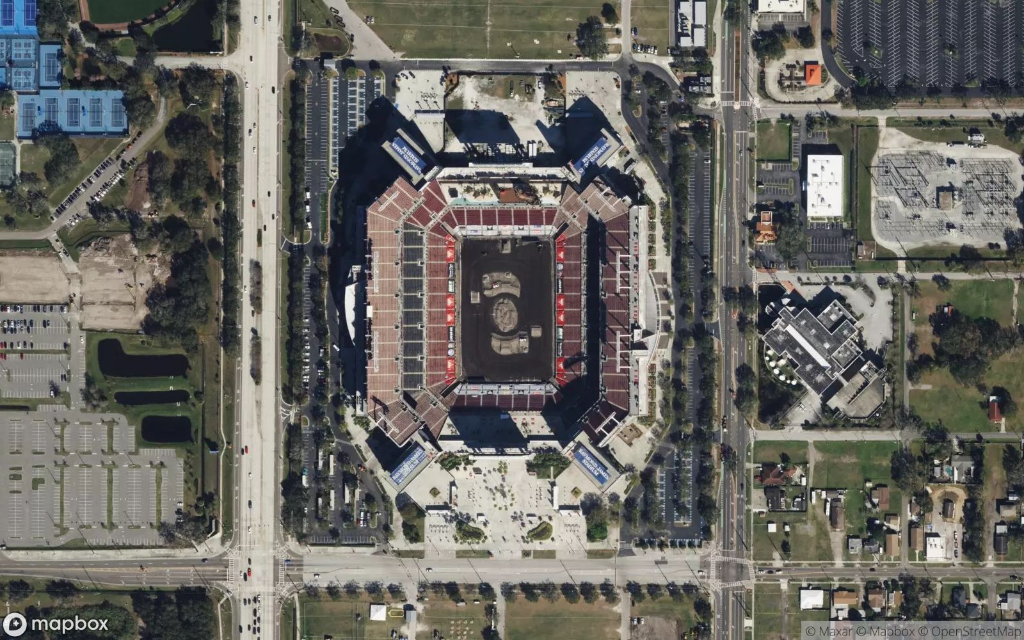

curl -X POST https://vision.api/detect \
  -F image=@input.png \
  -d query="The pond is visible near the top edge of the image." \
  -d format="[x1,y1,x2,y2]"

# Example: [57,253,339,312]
[151,0,221,53]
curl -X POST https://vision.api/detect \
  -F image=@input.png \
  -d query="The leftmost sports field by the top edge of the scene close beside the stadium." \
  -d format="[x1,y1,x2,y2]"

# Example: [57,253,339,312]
[351,0,622,58]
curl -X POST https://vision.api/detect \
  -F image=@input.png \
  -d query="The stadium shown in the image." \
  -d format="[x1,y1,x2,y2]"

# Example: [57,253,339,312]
[345,128,666,492]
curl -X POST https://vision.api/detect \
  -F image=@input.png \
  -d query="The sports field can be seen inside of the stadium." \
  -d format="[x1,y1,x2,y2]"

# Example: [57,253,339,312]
[455,236,556,385]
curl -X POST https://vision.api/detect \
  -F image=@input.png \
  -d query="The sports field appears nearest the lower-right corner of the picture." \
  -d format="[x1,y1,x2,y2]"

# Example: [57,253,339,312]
[504,599,622,640]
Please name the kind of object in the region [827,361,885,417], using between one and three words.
building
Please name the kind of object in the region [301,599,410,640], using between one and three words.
sports field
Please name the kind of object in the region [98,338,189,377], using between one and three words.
pond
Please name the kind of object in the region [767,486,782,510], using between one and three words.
house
